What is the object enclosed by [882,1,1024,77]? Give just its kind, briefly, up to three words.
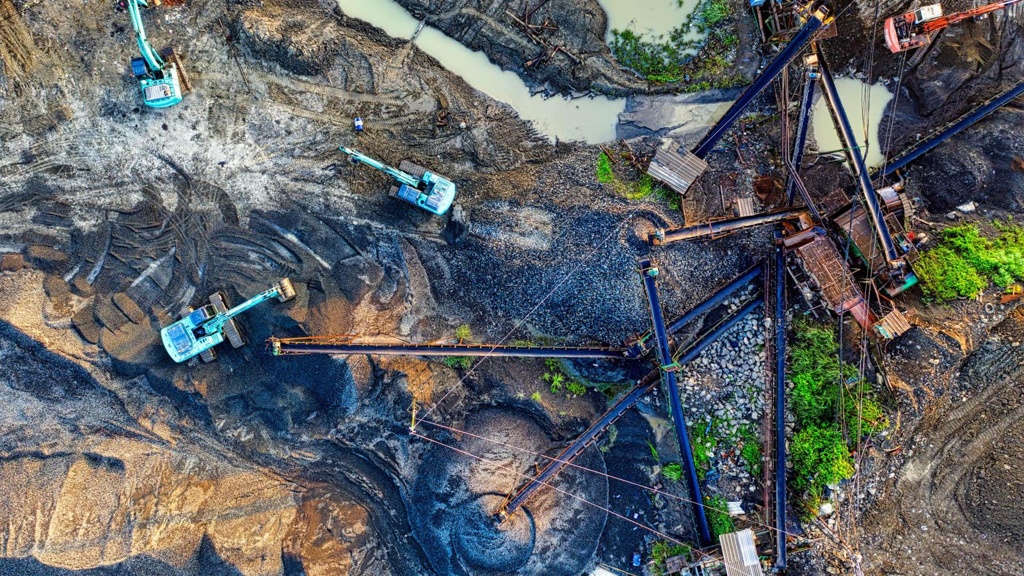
work vehicle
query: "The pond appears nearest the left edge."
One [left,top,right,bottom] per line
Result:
[600,0,716,82]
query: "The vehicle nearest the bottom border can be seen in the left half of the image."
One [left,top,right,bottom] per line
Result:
[166,277,305,365]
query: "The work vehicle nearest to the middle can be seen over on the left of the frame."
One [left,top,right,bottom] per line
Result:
[338,134,460,216]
